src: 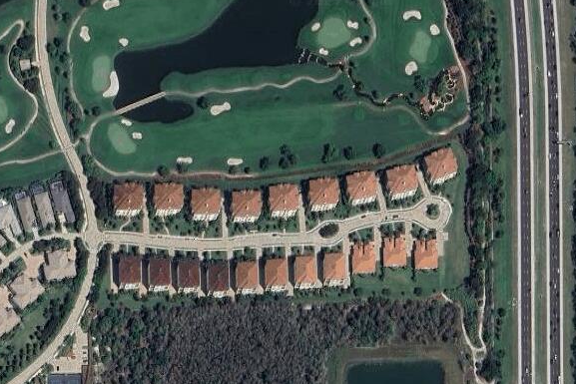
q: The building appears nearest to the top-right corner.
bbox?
[424,146,459,187]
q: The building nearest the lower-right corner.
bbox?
[415,240,437,272]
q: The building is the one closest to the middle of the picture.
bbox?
[269,183,301,220]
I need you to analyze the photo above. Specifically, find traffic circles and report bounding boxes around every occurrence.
[417,195,451,230]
